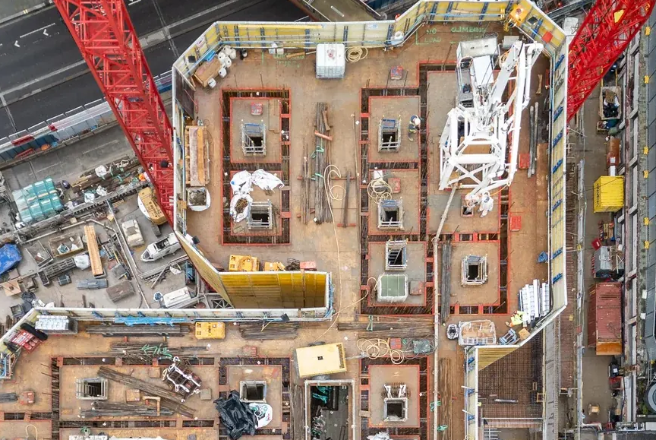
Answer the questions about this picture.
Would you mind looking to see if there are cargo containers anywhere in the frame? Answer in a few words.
Yes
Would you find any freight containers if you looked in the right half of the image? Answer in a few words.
Yes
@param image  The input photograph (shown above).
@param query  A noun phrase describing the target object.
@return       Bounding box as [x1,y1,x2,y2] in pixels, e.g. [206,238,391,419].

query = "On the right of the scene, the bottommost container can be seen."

[586,279,624,351]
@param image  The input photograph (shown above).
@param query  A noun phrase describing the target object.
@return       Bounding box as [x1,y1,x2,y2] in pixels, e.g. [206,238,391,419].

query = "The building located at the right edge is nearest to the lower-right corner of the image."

[588,247,632,283]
